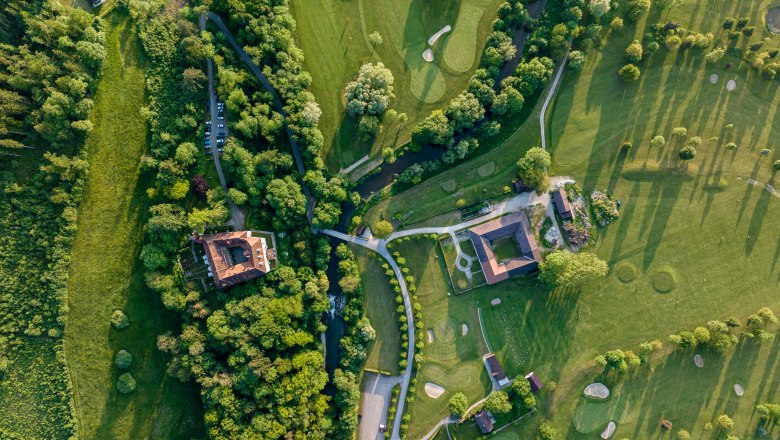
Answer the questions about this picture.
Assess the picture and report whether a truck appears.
No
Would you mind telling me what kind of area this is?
golf course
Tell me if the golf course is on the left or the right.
right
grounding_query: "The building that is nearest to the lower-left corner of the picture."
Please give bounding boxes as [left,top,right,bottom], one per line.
[190,231,277,288]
